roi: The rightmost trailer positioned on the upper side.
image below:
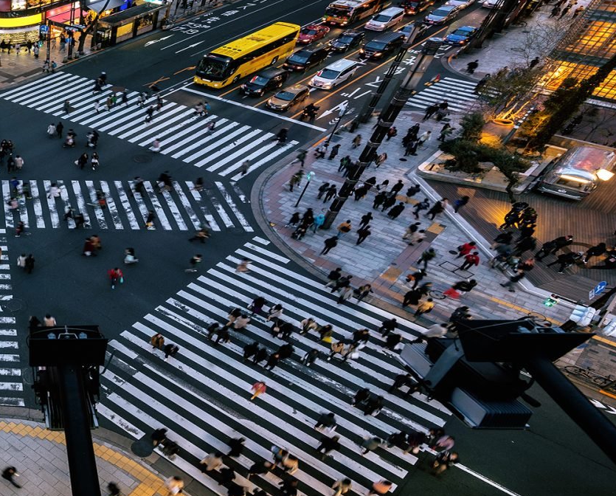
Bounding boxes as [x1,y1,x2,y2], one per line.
[534,146,615,204]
